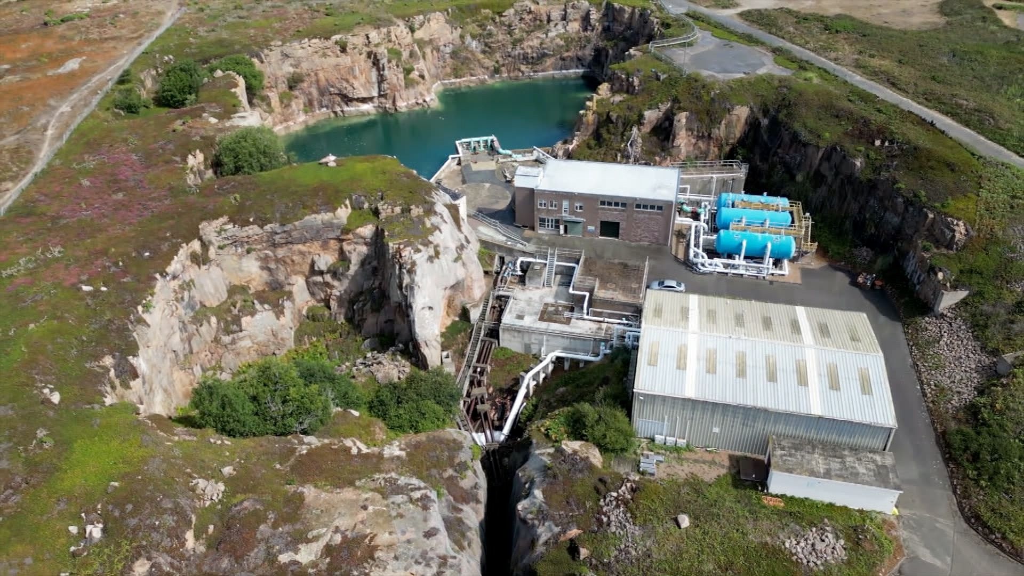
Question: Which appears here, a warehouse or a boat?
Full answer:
It is a warehouse that can be seen here.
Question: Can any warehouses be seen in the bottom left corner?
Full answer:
No, in the bottom left corner there is no warehouse.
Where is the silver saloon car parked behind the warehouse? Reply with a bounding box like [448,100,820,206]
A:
[650,275,686,292]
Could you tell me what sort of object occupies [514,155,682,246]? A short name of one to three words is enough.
building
